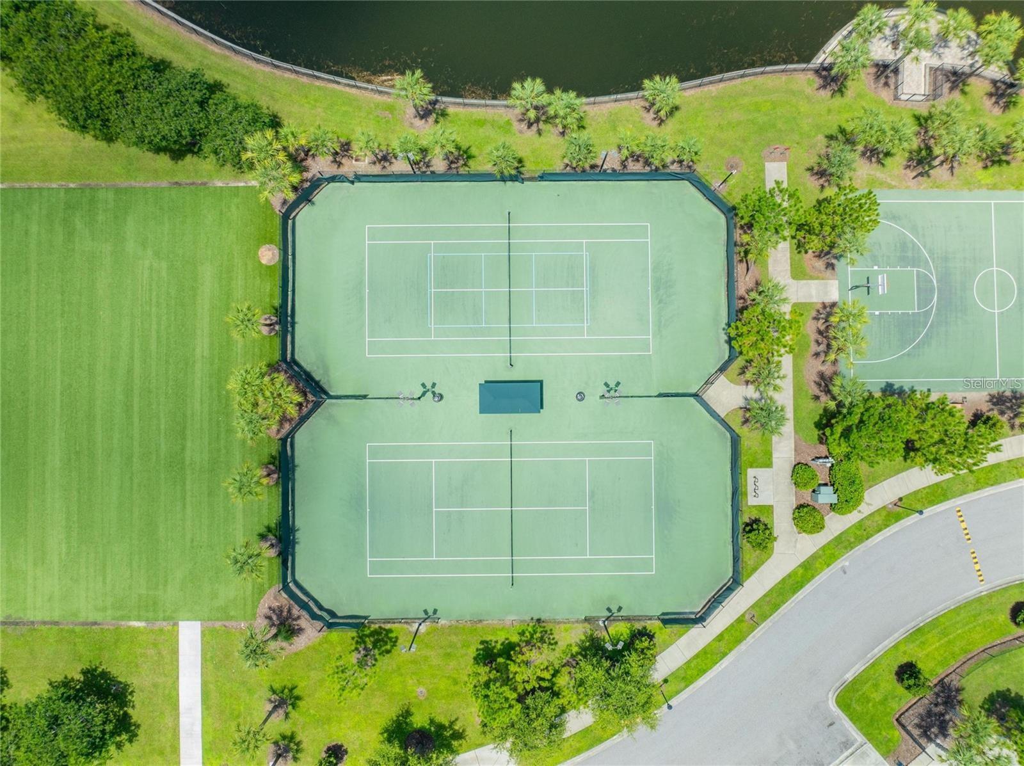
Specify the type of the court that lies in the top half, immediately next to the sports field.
tennis court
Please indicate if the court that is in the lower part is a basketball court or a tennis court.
tennis court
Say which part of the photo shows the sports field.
left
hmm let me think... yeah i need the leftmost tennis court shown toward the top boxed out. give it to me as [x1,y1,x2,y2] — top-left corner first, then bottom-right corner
[292,183,725,398]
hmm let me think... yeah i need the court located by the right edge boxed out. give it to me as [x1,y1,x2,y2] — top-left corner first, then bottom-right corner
[837,190,1024,392]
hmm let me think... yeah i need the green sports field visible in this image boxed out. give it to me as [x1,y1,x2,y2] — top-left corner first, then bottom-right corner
[0,186,280,621]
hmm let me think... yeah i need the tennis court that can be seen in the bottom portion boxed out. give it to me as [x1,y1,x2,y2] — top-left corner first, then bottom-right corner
[292,397,730,619]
